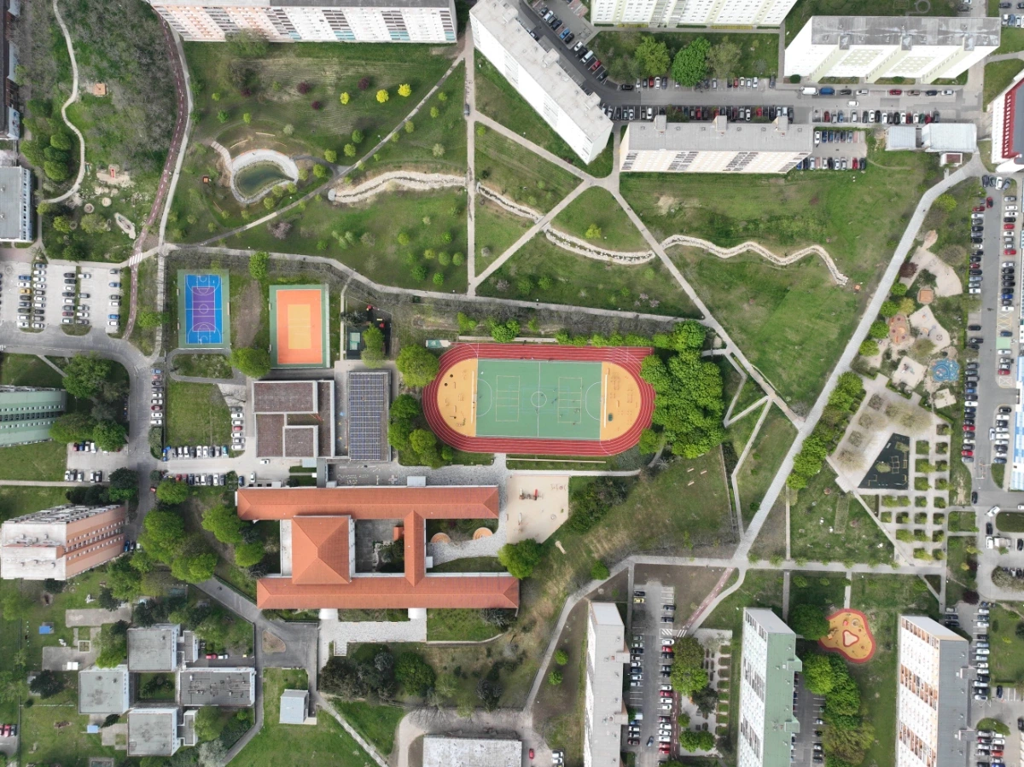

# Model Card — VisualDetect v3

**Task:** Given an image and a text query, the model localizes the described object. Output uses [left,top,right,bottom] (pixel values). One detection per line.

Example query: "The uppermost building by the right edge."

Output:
[783,16,1001,82]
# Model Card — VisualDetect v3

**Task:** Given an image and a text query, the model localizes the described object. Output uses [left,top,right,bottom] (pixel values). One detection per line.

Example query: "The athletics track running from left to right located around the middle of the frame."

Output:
[422,342,656,457]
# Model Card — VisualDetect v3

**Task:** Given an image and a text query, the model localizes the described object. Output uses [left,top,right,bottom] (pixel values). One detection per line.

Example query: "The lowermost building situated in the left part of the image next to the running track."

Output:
[237,475,519,620]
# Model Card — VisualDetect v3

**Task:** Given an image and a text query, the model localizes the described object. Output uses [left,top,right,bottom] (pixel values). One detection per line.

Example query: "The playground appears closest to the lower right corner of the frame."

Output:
[817,609,876,663]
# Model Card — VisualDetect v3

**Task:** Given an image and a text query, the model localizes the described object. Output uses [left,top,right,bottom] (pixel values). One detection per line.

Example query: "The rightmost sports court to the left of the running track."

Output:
[270,285,327,368]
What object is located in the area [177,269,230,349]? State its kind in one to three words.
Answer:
basketball court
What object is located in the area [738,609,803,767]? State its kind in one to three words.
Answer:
building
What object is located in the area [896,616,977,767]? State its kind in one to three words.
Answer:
building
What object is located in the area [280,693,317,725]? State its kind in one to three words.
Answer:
shed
